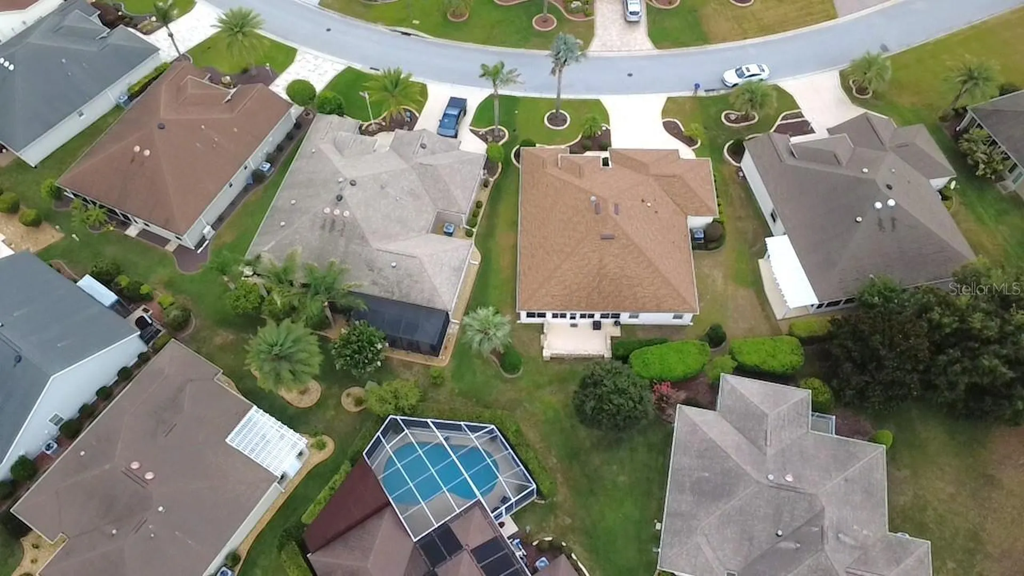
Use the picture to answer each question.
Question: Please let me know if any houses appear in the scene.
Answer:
Yes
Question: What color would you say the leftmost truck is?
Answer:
blue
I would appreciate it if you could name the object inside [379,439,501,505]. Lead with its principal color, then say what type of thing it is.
blue swimming pool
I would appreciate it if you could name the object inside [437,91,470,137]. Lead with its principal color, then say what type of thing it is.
blue truck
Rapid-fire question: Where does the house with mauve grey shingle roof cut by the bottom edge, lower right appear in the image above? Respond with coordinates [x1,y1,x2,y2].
[657,373,933,576]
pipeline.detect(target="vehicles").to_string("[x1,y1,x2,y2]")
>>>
[437,91,470,137]
[720,62,773,88]
[623,0,645,19]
